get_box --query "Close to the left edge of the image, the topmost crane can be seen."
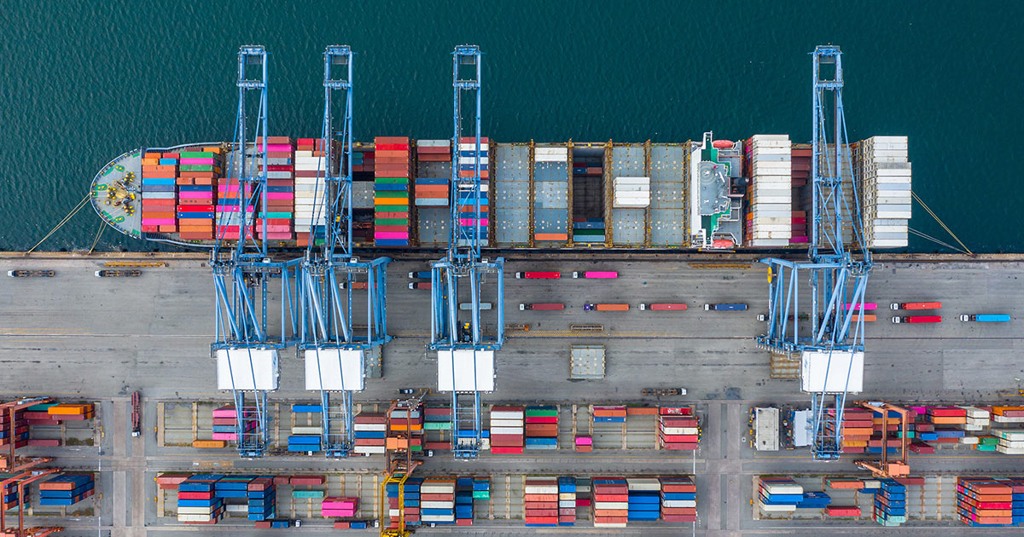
[0,393,56,473]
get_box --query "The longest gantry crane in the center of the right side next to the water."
[745,44,876,461]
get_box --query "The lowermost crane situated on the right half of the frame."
[851,397,910,481]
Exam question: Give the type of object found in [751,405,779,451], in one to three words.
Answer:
shed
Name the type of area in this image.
port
